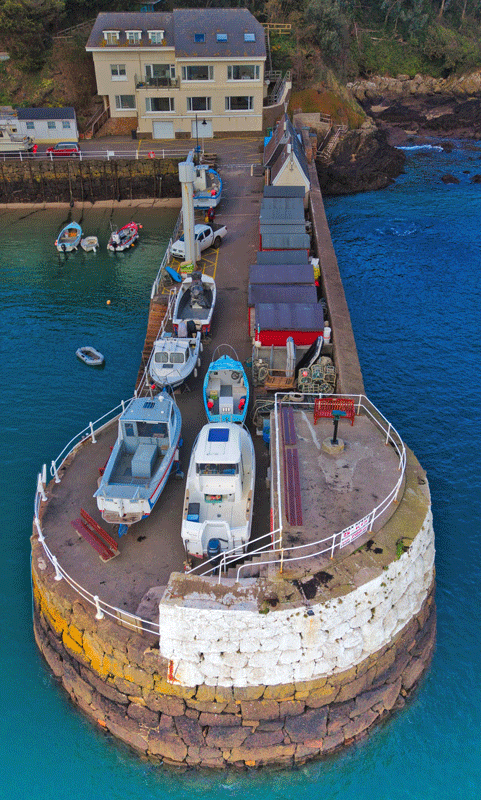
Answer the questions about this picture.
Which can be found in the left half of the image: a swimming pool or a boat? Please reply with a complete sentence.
Looking in the left half of the image, you will find a boat.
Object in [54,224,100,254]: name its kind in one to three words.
boat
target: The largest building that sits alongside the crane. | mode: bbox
[86,6,272,138]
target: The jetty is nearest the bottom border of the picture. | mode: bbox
[34,158,438,766]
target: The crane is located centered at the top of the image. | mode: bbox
[178,136,201,266]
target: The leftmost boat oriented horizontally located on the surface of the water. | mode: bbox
[75,350,107,366]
